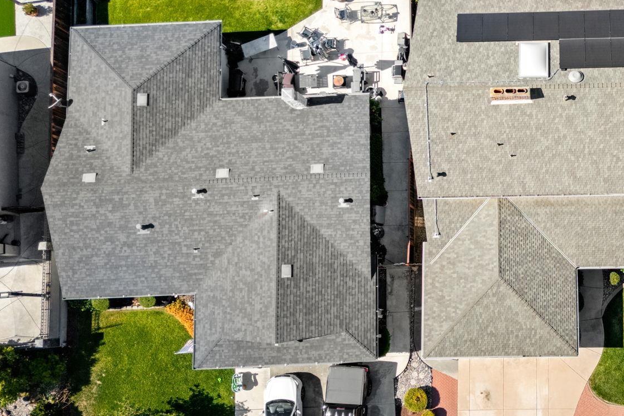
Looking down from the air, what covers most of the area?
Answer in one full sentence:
For the most part, this view shows buildings.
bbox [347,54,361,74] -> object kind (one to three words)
umbrella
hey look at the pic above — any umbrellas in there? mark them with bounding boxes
[347,54,361,74]
[281,56,304,77]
